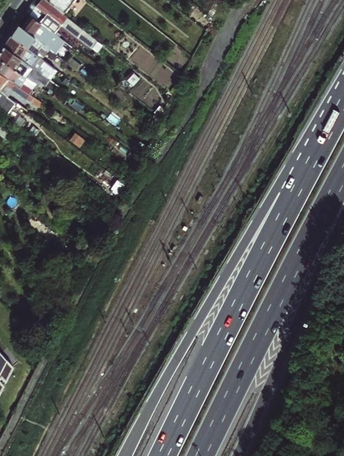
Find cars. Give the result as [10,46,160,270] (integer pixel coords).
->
[158,432,166,442]
[317,155,326,167]
[226,334,234,346]
[176,434,184,446]
[282,224,290,234]
[239,310,246,320]
[224,316,232,326]
[286,177,294,188]
[254,276,262,288]
[272,321,280,333]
